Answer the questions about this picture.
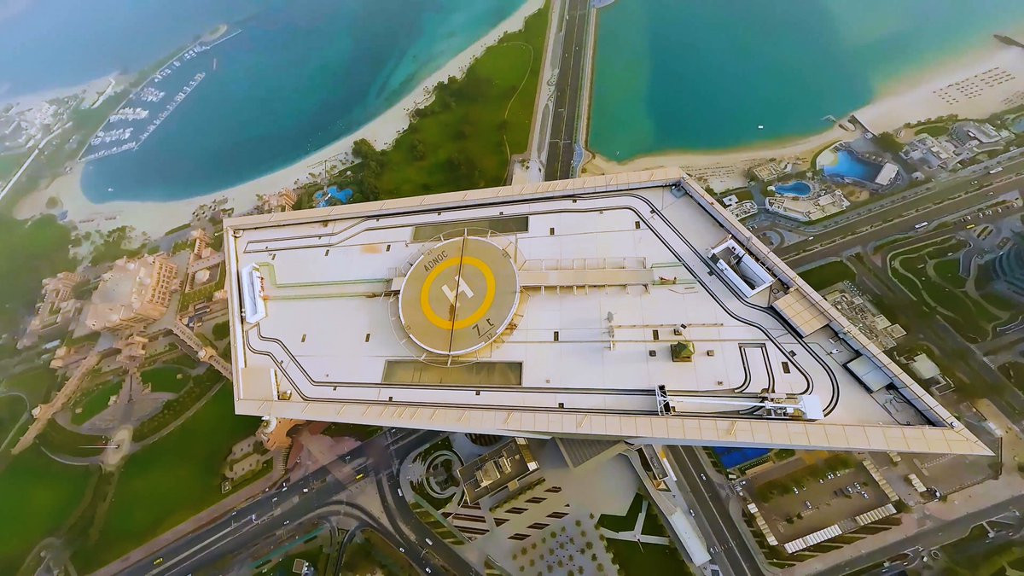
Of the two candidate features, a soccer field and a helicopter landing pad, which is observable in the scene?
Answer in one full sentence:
The one in the frame is a helicopter landing pad.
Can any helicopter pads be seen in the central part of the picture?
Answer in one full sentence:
Yes, you'll find a helicopter pad in the central part of the picture.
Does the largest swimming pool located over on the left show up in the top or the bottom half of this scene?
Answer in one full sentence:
It is in the top half that the largest swimming pool located over on the left appears.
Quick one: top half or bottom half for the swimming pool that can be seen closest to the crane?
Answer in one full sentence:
The bottom half of the photo is where the swimming pool that can be seen closest to the crane is.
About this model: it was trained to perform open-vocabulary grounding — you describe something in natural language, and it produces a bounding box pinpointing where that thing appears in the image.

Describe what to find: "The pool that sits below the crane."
[716,448,777,470]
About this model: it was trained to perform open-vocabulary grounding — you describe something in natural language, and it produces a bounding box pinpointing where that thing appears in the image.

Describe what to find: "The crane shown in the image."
[654,384,824,419]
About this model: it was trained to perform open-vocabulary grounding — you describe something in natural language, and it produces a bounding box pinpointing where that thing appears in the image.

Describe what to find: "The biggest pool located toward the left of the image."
[314,183,353,208]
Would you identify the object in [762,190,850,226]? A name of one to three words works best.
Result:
building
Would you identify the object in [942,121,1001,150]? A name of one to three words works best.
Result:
house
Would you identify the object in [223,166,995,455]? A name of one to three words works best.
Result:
building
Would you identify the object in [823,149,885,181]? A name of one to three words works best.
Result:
swimming pool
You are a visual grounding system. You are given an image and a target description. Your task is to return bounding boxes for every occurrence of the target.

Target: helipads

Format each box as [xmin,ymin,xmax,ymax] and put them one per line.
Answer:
[382,231,654,369]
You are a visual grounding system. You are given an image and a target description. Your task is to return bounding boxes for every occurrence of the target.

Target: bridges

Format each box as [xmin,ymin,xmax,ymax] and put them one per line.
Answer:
[517,266,654,293]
